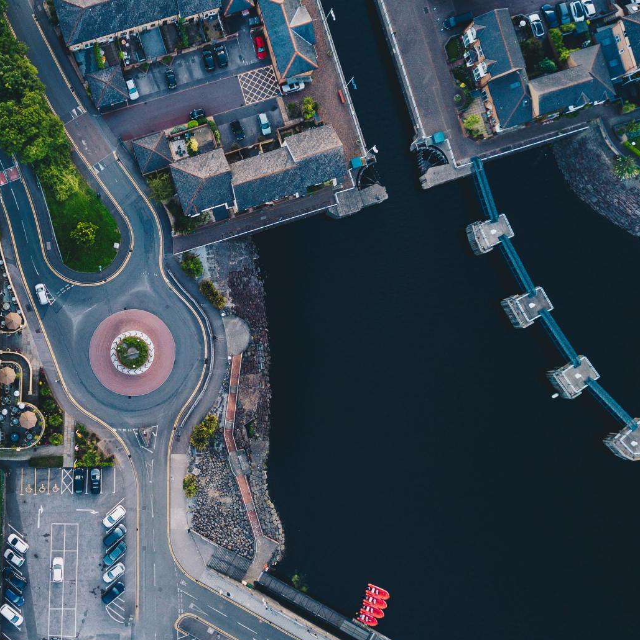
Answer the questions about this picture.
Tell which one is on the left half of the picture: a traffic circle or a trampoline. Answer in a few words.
traffic circle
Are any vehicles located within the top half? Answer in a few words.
Yes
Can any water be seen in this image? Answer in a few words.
Yes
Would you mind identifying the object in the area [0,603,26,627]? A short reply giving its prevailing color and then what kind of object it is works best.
white car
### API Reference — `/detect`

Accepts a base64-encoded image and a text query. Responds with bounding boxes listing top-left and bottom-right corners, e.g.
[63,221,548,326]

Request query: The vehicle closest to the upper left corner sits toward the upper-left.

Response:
[125,75,140,100]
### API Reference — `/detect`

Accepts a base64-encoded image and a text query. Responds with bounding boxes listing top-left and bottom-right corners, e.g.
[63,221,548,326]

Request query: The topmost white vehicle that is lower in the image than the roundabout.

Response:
[103,506,128,530]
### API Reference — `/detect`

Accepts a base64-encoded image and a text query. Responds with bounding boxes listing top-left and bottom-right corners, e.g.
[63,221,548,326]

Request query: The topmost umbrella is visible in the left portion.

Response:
[5,312,22,330]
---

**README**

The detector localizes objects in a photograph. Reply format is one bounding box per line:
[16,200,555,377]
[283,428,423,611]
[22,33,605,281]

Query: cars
[555,0,574,28]
[125,75,140,100]
[528,13,546,36]
[245,14,260,27]
[582,0,597,20]
[541,2,558,27]
[230,117,246,142]
[51,557,64,582]
[187,107,209,120]
[2,565,28,591]
[2,547,27,570]
[103,562,126,584]
[72,466,85,494]
[0,603,26,627]
[104,542,127,564]
[35,281,50,307]
[202,47,217,72]
[253,34,268,61]
[100,581,127,605]
[7,533,30,555]
[90,467,103,495]
[569,0,586,22]
[3,586,28,609]
[164,68,177,90]
[103,506,128,530]
[256,111,273,136]
[101,523,128,548]
[279,83,308,97]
